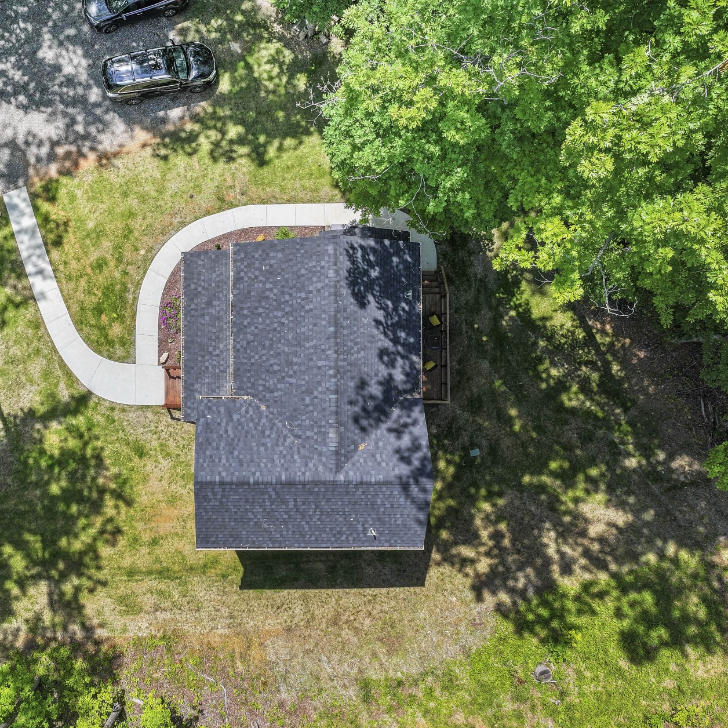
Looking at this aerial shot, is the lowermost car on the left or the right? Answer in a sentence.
The lowermost car appears in the left half of the scene.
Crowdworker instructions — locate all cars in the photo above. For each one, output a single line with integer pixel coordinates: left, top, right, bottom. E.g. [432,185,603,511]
[103,39,219,107]
[80,0,192,35]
